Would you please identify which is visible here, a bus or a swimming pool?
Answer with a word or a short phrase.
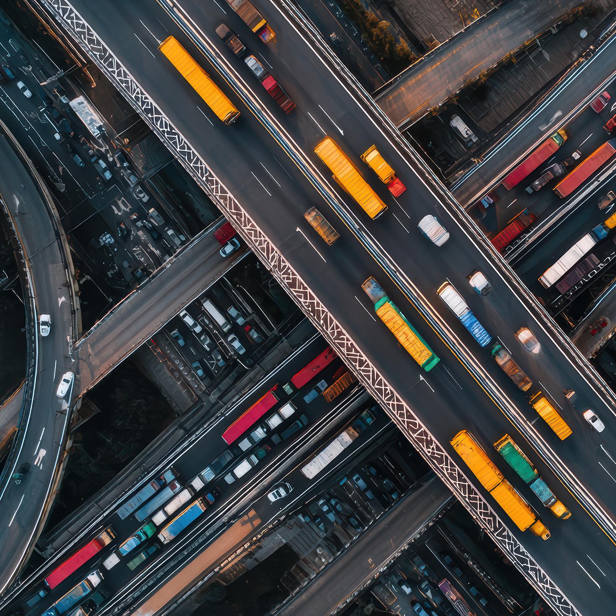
bus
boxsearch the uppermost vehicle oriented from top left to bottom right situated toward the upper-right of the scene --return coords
[449,113,475,144]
